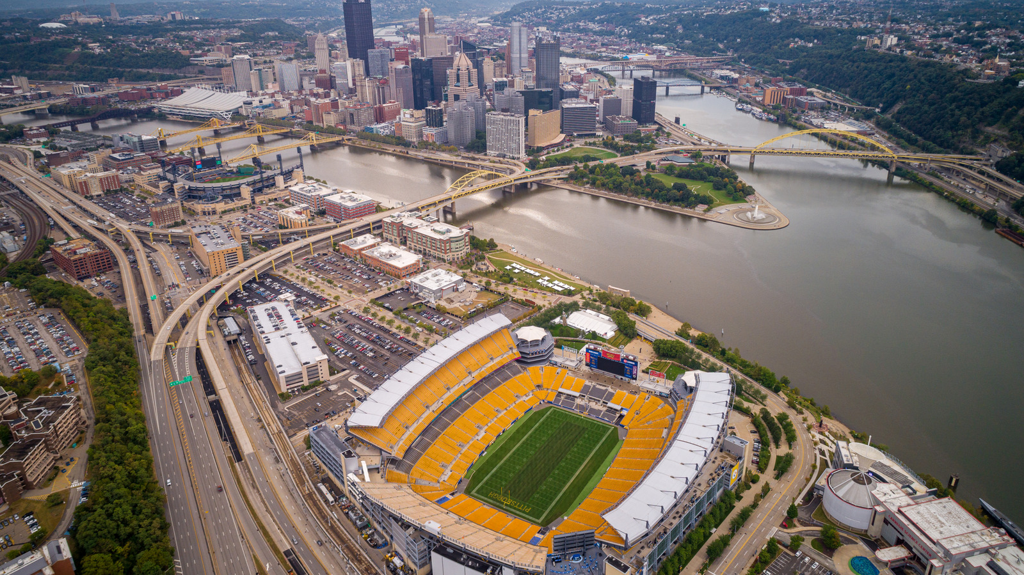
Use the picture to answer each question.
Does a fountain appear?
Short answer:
Yes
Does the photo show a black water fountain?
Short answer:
No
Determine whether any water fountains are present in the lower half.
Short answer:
No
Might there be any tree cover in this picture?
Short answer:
Yes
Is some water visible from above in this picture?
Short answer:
Yes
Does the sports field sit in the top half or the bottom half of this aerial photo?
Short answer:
bottom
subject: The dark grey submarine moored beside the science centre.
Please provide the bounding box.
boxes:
[981,500,1024,543]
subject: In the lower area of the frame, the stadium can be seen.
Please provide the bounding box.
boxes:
[337,306,753,575]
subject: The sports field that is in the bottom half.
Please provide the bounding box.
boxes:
[467,406,621,525]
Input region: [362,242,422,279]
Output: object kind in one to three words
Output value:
building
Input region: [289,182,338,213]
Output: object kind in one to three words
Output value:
building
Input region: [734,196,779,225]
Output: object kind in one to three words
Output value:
fountain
